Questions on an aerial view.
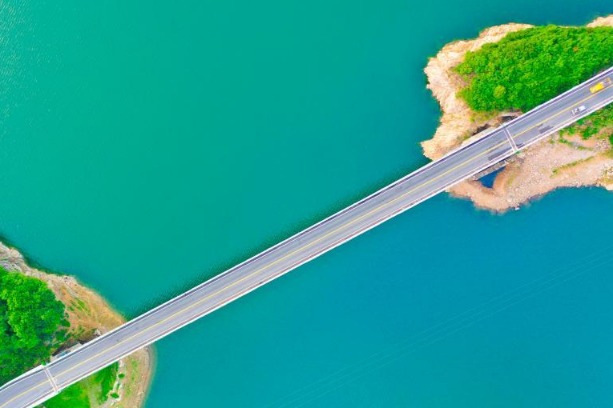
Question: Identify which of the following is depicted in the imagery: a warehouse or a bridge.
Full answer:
Of the two, only a bridge appears.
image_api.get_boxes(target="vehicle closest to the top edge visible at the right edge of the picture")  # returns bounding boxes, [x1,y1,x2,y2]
[587,77,612,95]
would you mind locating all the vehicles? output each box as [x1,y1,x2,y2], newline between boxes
[587,77,612,95]
[569,103,587,116]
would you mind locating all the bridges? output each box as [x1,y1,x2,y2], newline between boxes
[43,124,520,394]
